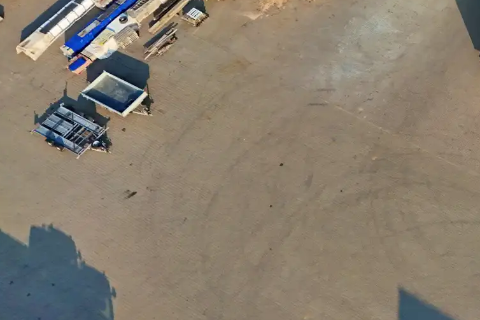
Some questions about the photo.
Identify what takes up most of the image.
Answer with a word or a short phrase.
paved ground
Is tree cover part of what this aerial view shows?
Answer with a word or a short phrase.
No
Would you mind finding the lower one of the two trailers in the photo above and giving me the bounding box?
[32,104,111,161]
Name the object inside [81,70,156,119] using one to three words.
trailer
